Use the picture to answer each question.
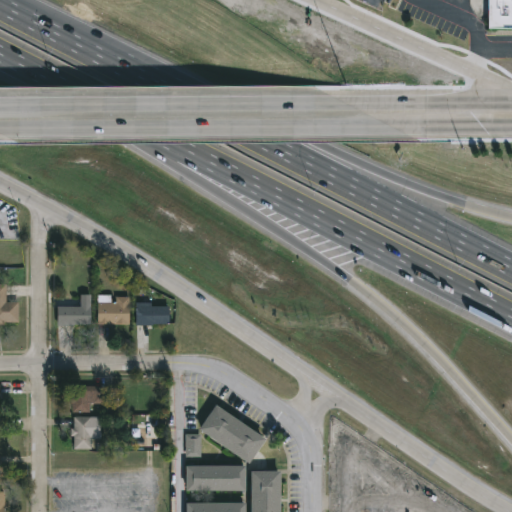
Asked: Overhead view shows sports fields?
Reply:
No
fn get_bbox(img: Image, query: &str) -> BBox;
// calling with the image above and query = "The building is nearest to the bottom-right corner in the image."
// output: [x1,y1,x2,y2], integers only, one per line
[252,472,282,512]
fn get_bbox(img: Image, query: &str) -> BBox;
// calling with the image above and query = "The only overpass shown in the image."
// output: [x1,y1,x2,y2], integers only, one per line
[0,86,432,145]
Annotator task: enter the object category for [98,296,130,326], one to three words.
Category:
house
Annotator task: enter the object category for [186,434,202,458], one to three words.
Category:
building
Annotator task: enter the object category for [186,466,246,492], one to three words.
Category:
building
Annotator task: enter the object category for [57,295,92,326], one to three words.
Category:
house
